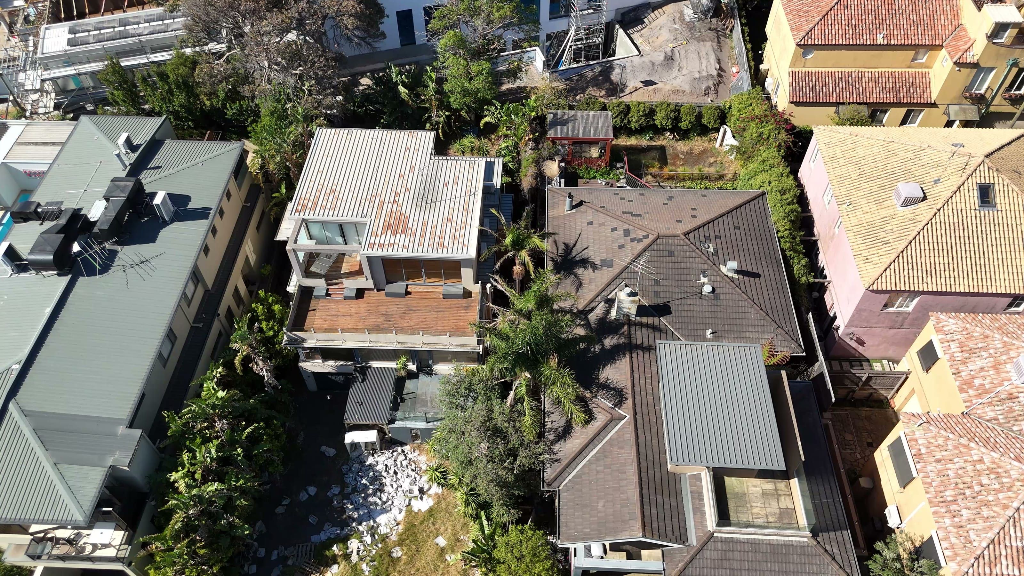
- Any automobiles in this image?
No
